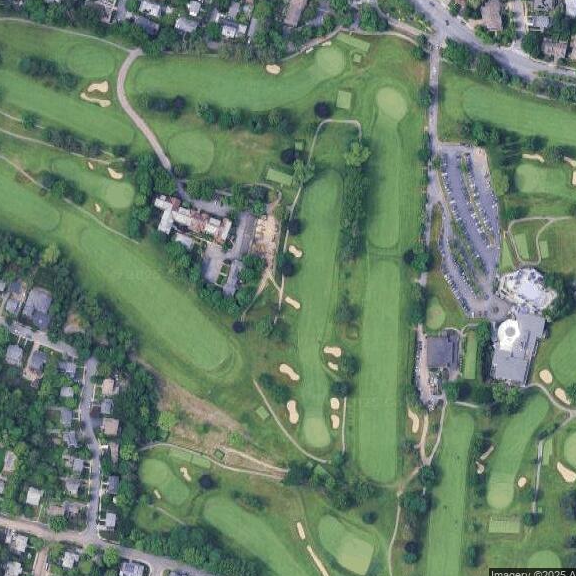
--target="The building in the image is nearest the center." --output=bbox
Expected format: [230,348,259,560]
[235,214,257,254]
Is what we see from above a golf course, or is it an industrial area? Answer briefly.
golf course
